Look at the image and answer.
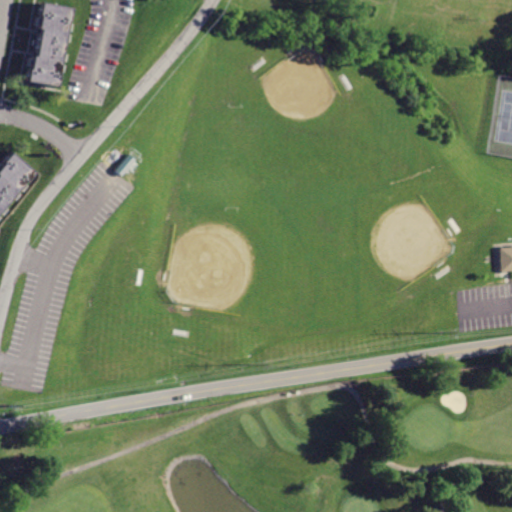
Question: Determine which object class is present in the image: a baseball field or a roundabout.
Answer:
baseball field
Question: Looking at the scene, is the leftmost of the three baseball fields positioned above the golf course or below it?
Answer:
above it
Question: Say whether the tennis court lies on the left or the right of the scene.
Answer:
right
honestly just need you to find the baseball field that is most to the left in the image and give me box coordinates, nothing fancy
[165,223,253,316]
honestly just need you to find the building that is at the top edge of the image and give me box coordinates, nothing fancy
[30,2,76,88]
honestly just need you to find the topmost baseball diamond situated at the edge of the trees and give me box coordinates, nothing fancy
[260,50,341,120]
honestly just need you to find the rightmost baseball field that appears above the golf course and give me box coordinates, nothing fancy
[370,196,456,290]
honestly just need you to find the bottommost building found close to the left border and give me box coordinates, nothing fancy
[0,154,41,230]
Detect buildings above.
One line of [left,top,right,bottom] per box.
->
[501,248,512,272]
[116,156,138,179]
[30,2,76,88]
[0,154,41,230]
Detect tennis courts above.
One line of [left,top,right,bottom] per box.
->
[486,76,512,158]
